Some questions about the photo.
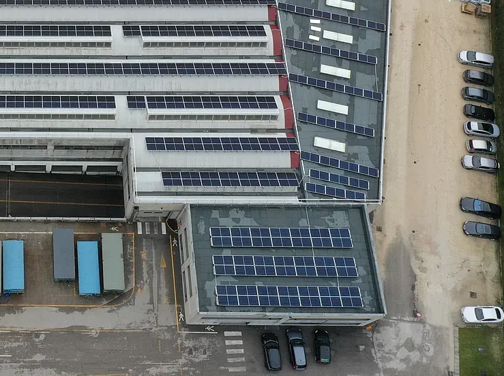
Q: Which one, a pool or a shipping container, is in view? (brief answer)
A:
shipping container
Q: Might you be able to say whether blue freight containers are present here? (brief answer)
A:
Yes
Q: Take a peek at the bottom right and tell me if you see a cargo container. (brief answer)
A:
No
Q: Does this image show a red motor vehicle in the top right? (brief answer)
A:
No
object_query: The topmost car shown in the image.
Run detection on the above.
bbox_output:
[459,48,499,67]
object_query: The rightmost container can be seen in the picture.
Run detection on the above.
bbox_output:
[99,233,125,296]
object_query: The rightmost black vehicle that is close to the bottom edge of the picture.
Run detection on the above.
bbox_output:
[312,328,335,365]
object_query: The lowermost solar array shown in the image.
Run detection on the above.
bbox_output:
[216,285,363,306]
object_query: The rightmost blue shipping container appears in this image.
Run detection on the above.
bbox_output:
[74,241,100,300]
